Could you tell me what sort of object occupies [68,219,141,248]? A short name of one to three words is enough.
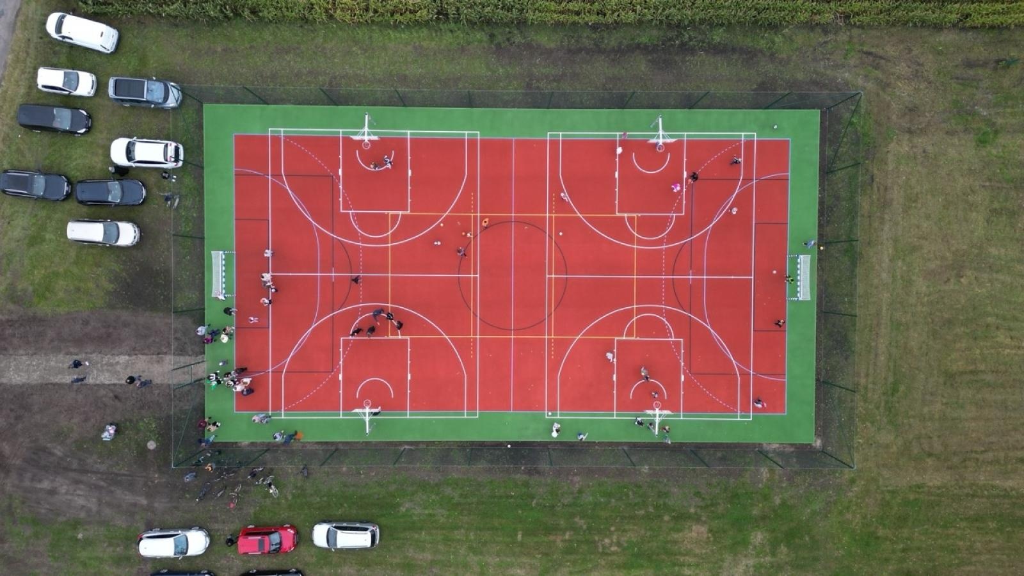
car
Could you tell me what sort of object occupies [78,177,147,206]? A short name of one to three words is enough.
car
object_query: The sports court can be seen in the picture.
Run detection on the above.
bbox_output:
[203,104,820,444]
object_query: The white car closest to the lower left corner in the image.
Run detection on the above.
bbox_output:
[139,527,210,559]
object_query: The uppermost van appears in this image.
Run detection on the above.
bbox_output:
[46,10,121,53]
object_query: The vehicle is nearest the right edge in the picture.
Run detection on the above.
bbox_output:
[312,521,380,552]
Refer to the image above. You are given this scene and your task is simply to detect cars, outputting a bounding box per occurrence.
[2,170,72,200]
[78,177,147,206]
[39,67,98,96]
[312,521,380,552]
[110,77,183,108]
[18,104,93,135]
[110,137,184,168]
[139,527,210,559]
[242,567,305,576]
[68,219,141,248]
[239,525,299,556]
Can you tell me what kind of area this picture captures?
sports ground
